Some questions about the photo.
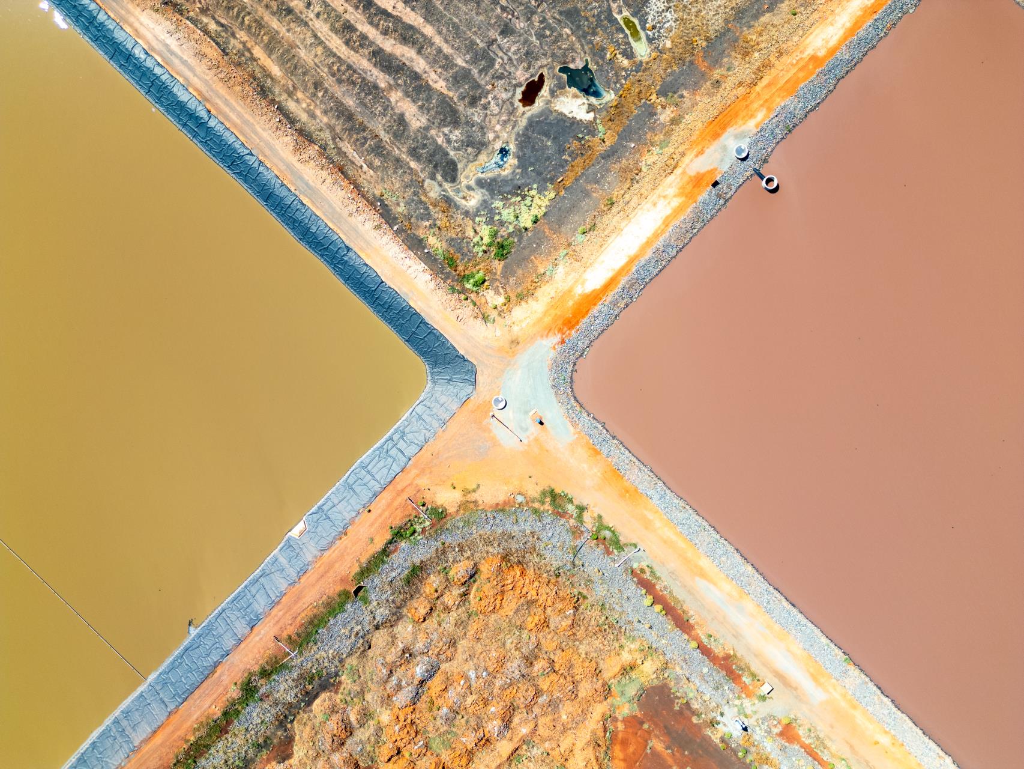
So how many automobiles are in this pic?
0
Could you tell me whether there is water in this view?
Yes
